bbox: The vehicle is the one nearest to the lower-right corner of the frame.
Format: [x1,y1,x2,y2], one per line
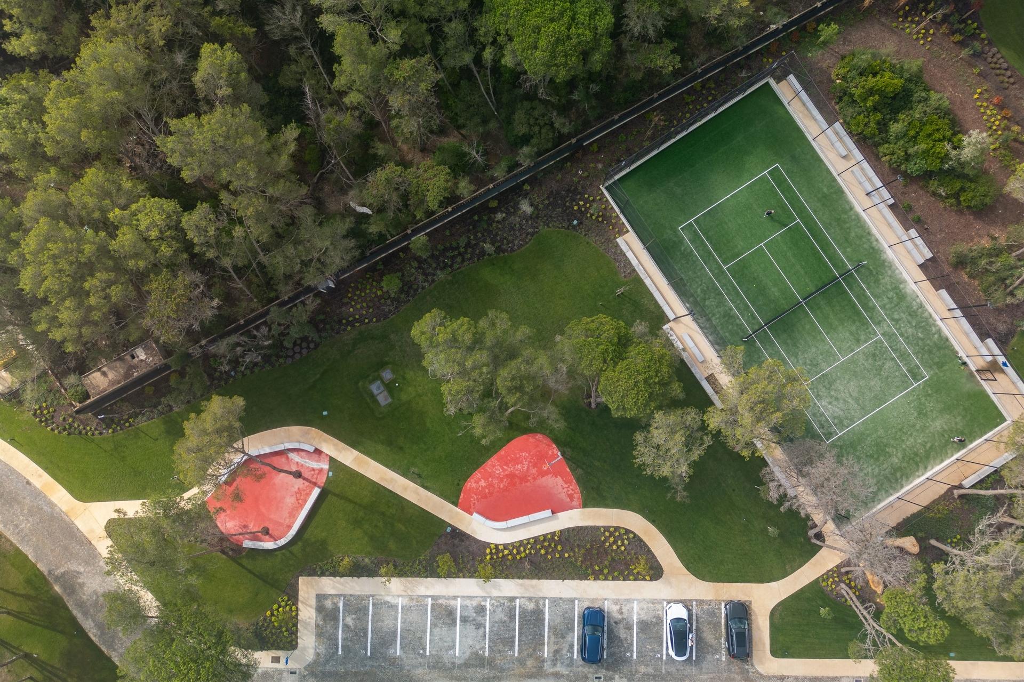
[723,602,750,660]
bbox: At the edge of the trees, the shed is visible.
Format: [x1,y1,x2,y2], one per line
[81,340,172,399]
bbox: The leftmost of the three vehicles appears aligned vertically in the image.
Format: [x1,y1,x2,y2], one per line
[581,607,608,665]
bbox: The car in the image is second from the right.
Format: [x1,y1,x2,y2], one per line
[665,604,690,662]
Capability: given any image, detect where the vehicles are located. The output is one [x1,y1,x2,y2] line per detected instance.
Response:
[665,604,690,662]
[581,607,608,665]
[723,602,750,660]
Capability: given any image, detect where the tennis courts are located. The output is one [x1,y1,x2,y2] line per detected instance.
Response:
[608,73,1019,541]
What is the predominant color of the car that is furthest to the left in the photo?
blue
